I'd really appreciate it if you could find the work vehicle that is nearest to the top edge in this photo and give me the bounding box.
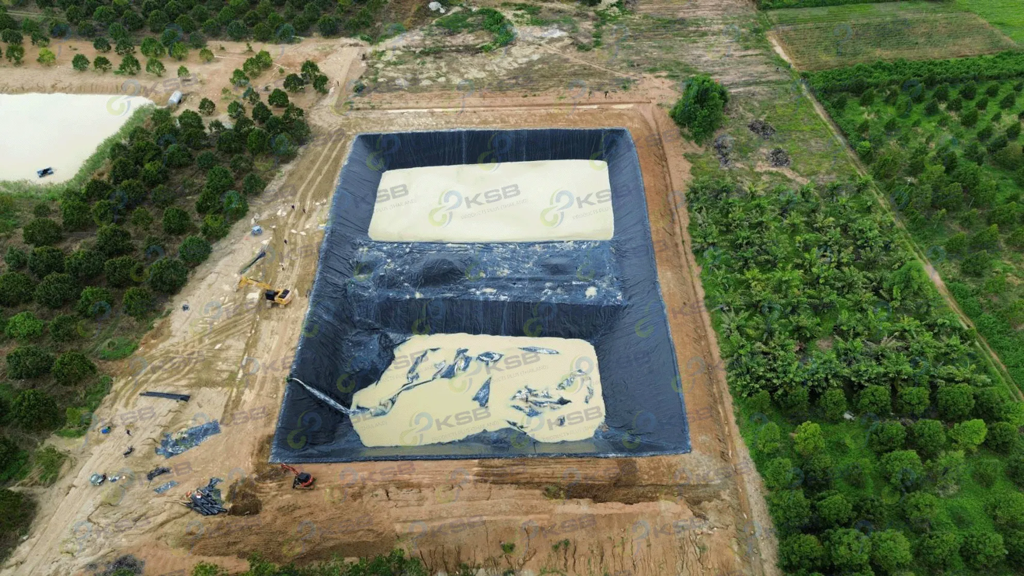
[249,222,263,238]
